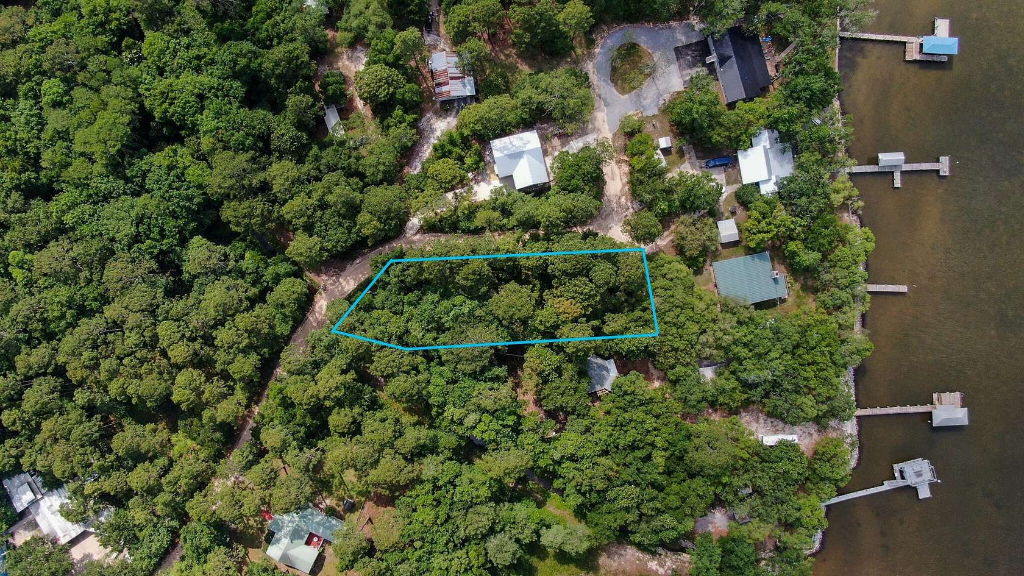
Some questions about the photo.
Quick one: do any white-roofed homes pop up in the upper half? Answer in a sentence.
Yes, in the upper half there is a white-roofed home.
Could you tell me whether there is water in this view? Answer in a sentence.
Yes, the picture does contain water.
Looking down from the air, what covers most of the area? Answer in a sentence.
For the most part, this view shows trees.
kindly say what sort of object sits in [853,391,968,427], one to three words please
pier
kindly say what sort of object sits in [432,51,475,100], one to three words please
house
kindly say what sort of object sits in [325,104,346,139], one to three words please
shed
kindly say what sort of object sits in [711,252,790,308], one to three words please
building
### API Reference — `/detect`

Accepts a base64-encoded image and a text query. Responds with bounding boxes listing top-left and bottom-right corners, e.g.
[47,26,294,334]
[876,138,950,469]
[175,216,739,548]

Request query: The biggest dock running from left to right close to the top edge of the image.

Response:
[839,19,958,63]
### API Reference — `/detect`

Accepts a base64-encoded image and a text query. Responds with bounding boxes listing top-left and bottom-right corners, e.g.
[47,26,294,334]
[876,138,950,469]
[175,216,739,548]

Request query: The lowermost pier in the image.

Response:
[820,455,938,506]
